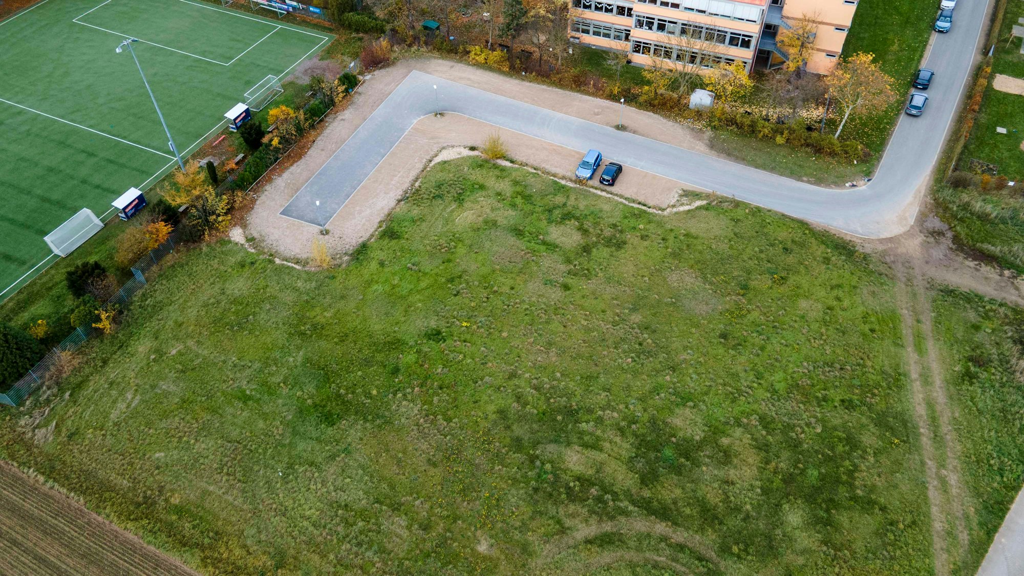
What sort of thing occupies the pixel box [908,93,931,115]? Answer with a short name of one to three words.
car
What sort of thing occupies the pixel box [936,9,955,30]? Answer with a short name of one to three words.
car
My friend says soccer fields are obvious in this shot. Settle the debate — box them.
[0,0,343,307]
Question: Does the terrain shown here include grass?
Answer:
Yes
